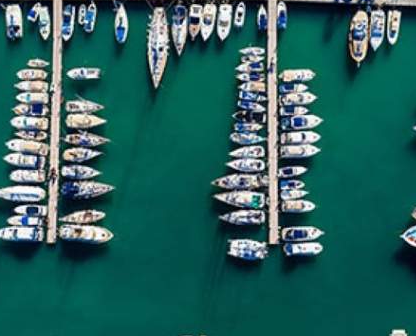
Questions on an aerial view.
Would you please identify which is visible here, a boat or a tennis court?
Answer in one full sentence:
There is a boat in the scene.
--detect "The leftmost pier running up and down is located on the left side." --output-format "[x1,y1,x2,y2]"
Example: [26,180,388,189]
[47,0,63,244]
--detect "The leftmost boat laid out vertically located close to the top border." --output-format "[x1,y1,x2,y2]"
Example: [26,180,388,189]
[6,4,22,40]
